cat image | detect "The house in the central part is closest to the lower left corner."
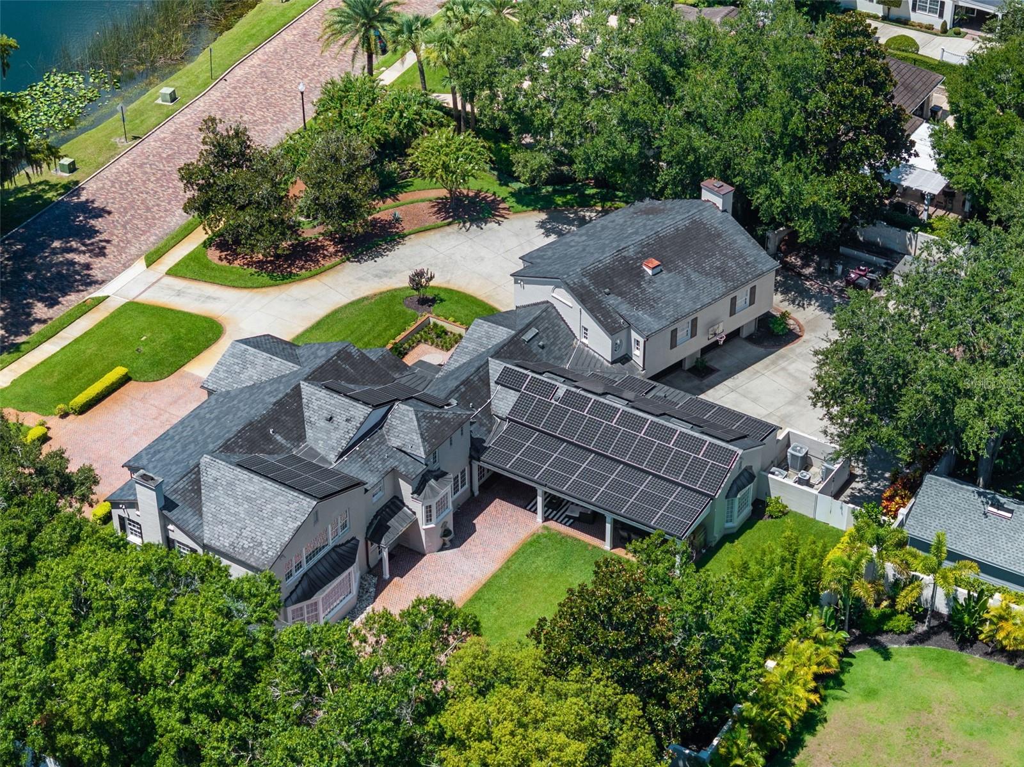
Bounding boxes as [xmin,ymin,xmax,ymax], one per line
[102,177,784,642]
